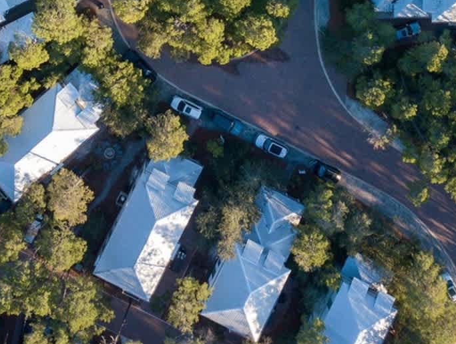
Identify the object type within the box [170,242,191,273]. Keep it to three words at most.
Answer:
car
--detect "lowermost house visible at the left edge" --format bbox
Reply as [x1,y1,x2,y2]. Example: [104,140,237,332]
[0,70,107,204]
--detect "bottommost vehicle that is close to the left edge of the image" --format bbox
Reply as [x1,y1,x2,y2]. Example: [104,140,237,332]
[20,215,44,247]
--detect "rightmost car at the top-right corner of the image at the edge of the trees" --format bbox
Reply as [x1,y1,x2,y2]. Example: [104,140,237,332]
[394,22,424,43]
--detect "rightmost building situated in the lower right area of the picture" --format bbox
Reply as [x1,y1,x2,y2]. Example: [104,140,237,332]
[297,252,398,344]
